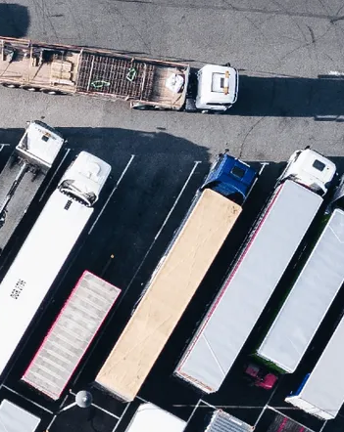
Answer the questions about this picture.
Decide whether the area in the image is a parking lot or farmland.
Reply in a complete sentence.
This image shows a parking lot.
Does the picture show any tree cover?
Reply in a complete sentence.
No, there is no tree cover in the image.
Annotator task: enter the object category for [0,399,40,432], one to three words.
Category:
trailer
